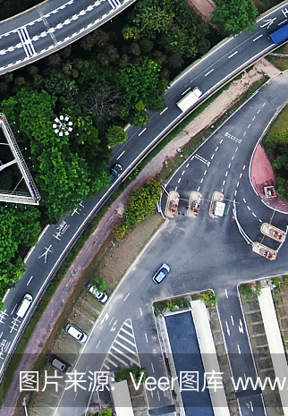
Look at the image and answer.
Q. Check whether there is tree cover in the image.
Yes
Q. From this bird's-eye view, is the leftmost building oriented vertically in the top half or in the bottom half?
bottom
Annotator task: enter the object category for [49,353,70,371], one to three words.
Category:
car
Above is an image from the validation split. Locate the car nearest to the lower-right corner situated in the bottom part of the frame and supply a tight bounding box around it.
[154,263,168,282]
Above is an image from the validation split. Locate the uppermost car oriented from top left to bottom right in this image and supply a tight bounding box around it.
[88,283,107,301]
